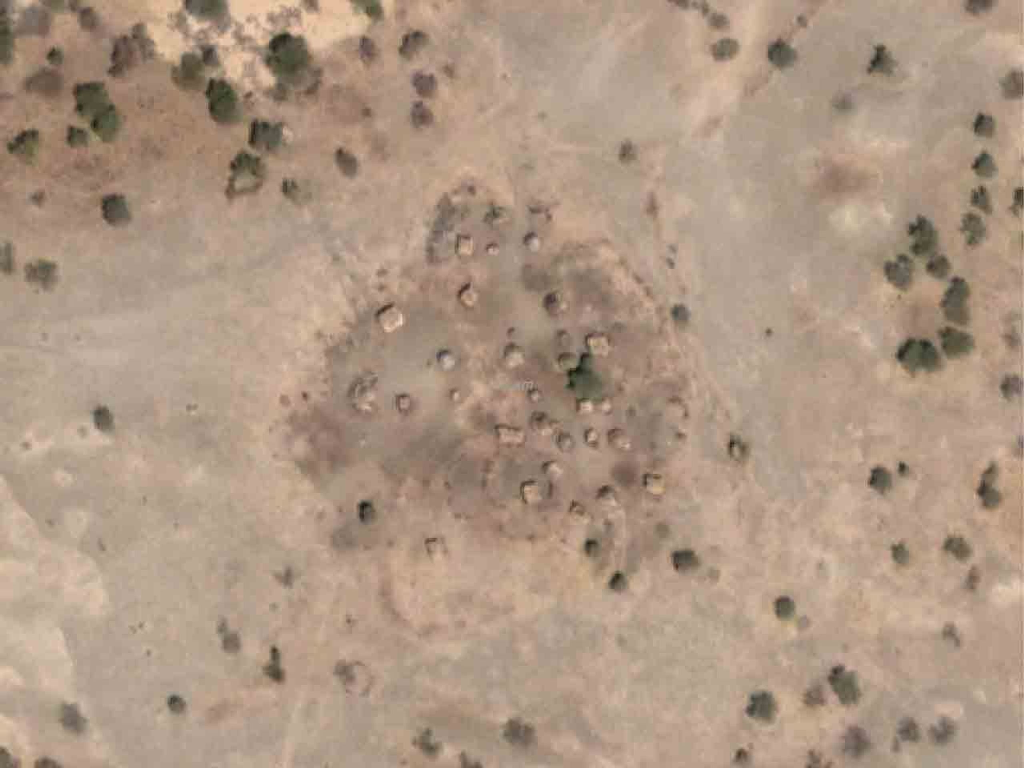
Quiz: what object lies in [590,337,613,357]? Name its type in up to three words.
house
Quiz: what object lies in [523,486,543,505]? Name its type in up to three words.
house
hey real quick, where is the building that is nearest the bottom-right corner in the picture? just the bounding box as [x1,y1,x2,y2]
[647,477,666,496]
